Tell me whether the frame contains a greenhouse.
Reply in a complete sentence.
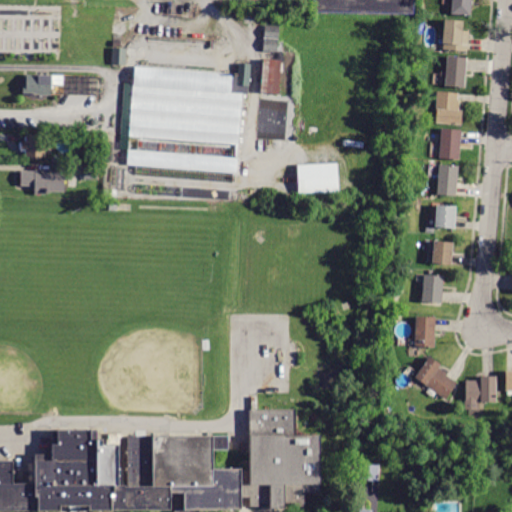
Yes, a greenhouse appears in the view.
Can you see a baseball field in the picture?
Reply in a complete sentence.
Yes, I can see a baseball field in this picture.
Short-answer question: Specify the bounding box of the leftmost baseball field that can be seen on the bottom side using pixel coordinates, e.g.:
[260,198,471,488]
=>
[0,344,42,416]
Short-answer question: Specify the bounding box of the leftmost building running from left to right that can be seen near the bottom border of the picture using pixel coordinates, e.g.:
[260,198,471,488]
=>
[34,398,320,512]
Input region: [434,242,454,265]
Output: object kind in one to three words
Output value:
house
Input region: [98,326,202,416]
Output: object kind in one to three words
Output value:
baseball field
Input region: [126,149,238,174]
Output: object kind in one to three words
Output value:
greenhouse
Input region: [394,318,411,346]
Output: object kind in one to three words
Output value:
swimming pool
